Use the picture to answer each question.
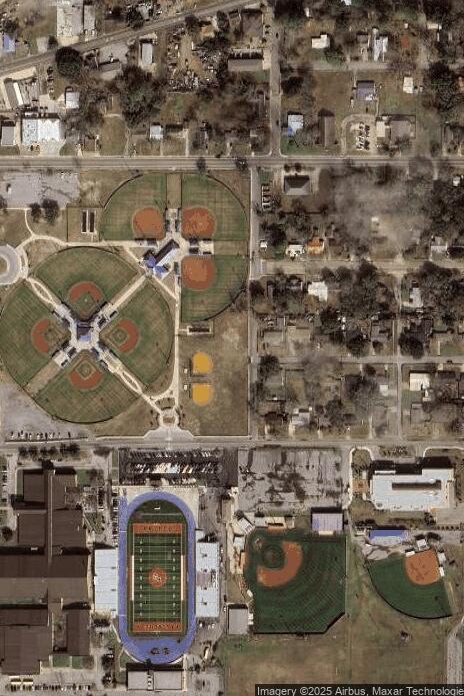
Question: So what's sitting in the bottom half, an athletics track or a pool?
athletics track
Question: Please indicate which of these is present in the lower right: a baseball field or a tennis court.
baseball field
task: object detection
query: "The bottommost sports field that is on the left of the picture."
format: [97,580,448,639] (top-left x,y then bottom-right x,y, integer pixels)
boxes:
[126,500,188,635]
